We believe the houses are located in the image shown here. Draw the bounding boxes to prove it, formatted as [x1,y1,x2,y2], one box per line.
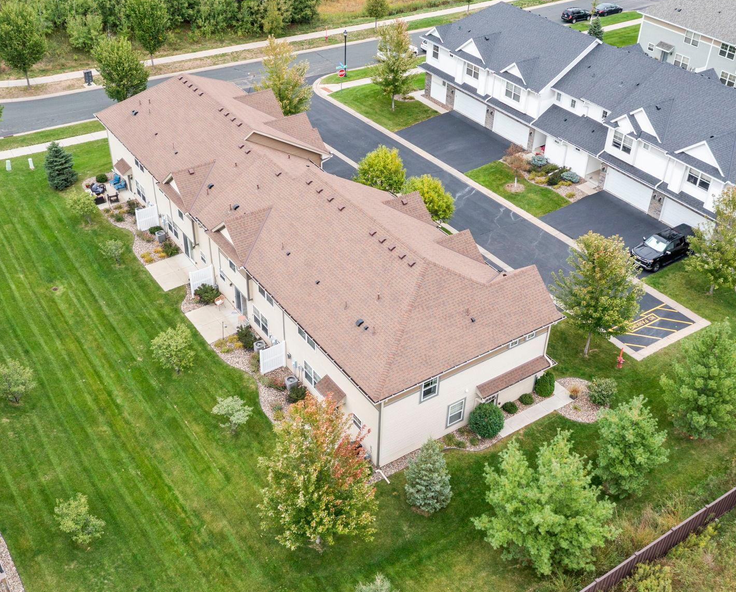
[97,74,572,483]
[414,1,736,259]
